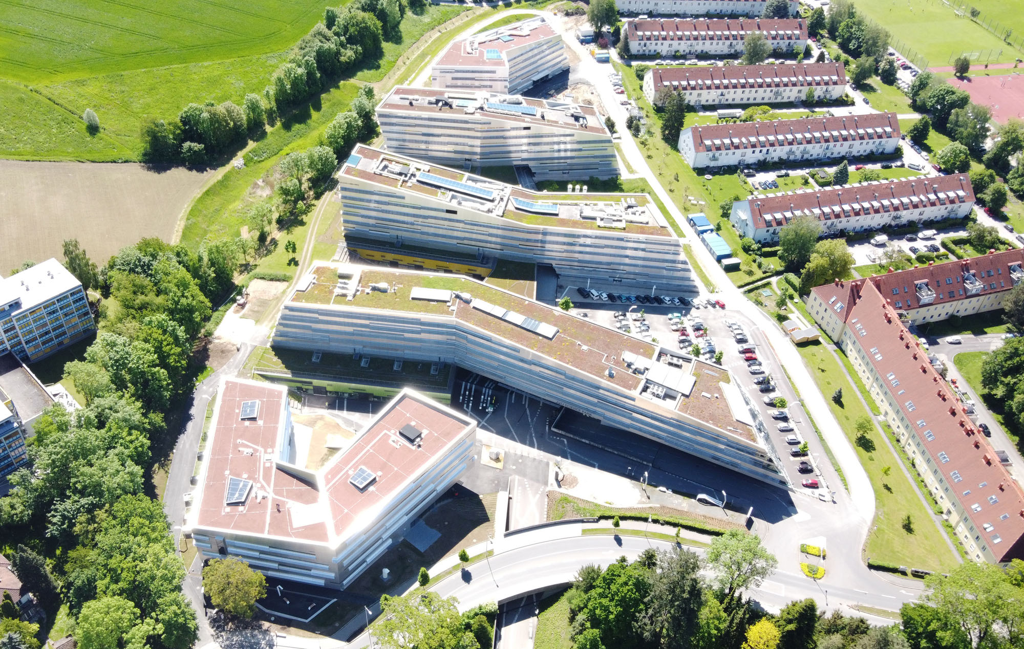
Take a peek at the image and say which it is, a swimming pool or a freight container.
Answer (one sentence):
I can see a freight container in this picture.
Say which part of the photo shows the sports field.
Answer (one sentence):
The sports field appears toward the top right of the photo.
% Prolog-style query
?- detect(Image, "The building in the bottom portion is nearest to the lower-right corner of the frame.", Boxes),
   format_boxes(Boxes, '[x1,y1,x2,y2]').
[840,306,1024,578]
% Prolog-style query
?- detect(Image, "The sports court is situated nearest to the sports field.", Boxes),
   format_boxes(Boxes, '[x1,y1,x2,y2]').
[969,73,1024,124]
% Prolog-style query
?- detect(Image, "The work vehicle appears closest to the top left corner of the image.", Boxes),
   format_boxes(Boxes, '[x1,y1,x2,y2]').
[232,292,253,310]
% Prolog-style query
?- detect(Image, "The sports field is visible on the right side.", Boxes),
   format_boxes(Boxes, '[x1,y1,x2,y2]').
[855,0,1024,66]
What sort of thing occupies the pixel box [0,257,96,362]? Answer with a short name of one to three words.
building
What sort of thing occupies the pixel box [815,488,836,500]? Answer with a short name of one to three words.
vehicle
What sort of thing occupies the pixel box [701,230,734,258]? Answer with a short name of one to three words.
shipping container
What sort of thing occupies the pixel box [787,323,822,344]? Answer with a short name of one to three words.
shed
